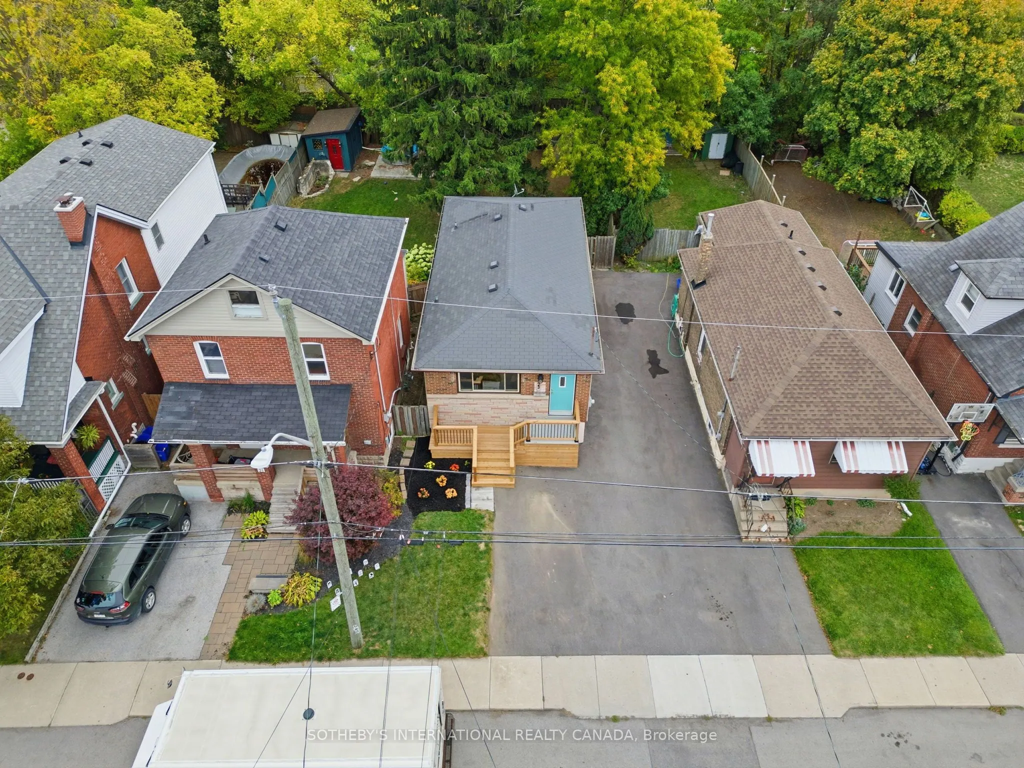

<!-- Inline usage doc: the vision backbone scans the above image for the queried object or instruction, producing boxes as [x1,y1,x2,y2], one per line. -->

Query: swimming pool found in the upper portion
[210,142,300,205]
